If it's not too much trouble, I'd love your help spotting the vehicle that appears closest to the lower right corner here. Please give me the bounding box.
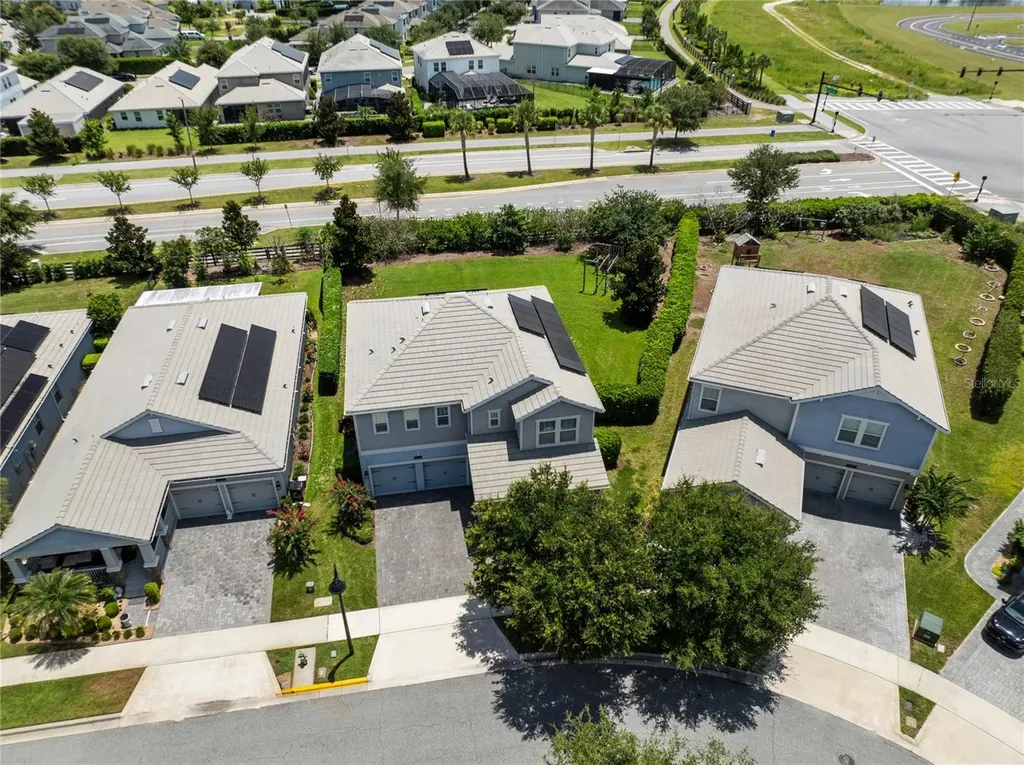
[989,579,1024,654]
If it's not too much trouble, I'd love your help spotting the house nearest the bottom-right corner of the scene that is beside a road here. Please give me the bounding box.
[660,264,952,540]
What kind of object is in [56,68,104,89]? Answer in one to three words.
solar panel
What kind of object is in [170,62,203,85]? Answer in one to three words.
solar panel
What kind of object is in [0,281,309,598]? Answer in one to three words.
house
